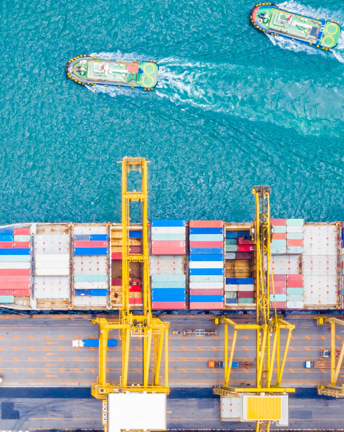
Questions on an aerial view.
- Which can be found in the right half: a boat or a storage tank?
boat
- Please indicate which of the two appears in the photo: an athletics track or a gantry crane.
gantry crane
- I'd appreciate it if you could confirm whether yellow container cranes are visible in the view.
Yes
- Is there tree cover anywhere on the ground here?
No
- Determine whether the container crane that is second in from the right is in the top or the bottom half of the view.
bottom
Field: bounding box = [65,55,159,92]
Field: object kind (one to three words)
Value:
boat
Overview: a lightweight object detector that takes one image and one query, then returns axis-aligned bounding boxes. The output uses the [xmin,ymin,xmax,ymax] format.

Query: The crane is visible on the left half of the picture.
[82,156,173,432]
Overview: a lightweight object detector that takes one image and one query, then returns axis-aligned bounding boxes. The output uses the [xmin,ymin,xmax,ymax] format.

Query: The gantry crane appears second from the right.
[202,185,294,432]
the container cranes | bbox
[82,156,173,432]
[308,318,344,392]
[202,185,294,432]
